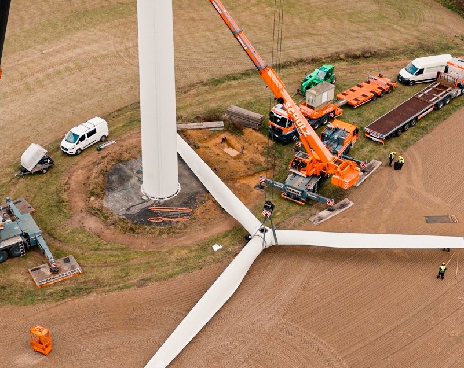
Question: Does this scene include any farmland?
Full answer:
Yes, farmland shows up in the scene.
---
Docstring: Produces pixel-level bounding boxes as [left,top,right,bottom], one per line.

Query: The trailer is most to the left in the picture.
[12,140,58,174]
